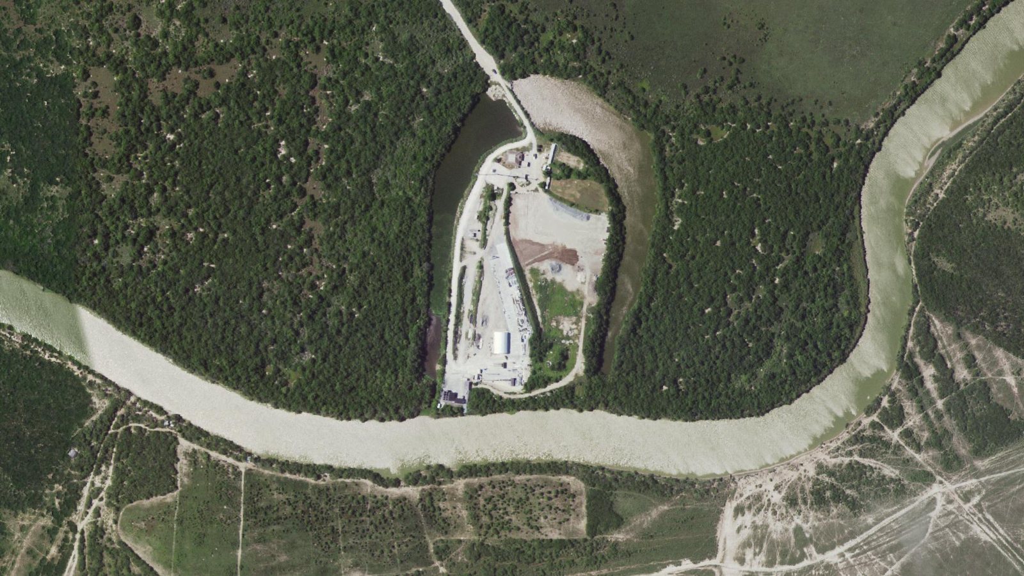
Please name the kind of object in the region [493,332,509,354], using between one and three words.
building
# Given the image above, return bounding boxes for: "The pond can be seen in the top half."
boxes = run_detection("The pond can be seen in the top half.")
[432,95,521,313]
